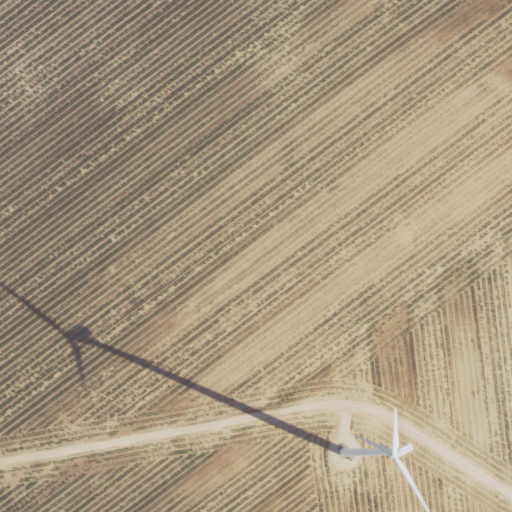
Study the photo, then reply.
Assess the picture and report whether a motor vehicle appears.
No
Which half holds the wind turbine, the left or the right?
right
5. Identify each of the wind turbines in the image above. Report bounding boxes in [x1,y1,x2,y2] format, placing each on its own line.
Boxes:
[338,408,432,512]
